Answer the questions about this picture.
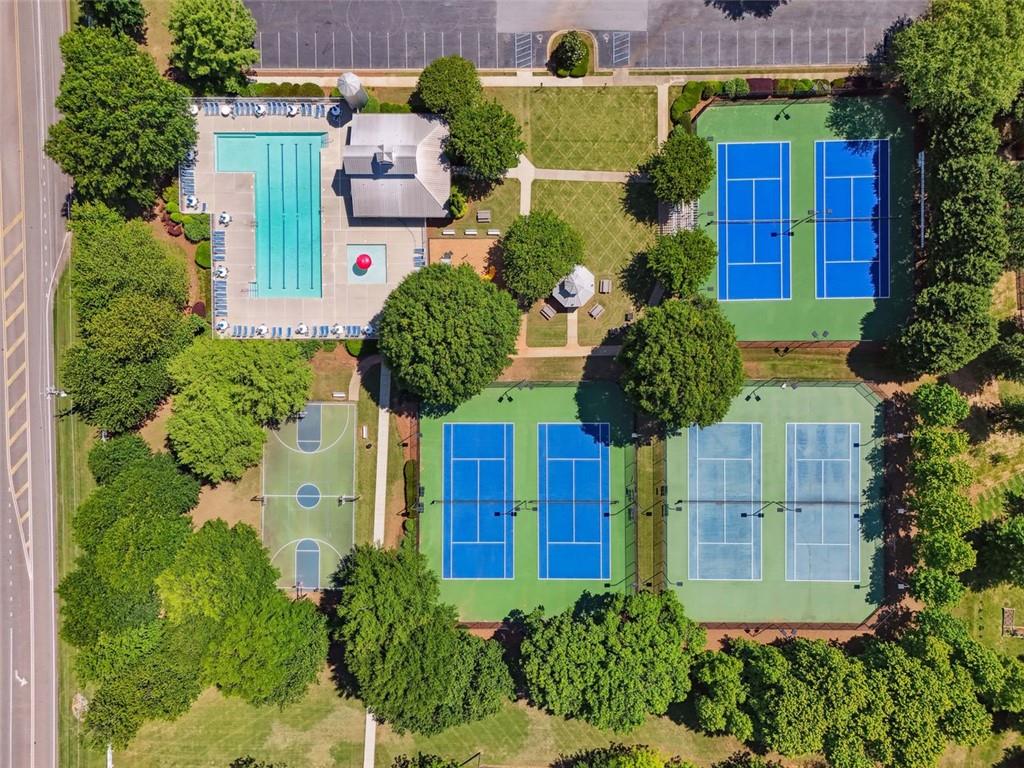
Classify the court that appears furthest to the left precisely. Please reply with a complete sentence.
I'd say the court that appears furthest to the left is a basketball court.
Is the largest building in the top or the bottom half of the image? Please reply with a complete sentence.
You can find the largest building in the top half.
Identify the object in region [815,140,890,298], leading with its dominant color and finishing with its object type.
blue tennis court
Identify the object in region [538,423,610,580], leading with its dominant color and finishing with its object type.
blue tennis court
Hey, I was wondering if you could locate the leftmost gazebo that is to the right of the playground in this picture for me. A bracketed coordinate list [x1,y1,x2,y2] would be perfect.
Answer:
[553,265,595,307]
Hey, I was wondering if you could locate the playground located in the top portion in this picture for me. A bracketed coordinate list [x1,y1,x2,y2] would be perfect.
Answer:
[429,238,512,291]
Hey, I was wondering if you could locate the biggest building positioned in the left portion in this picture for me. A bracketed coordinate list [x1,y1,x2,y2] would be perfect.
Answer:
[344,113,450,218]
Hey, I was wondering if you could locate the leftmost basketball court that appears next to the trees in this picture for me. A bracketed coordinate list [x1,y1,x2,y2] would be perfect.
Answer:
[262,402,357,590]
